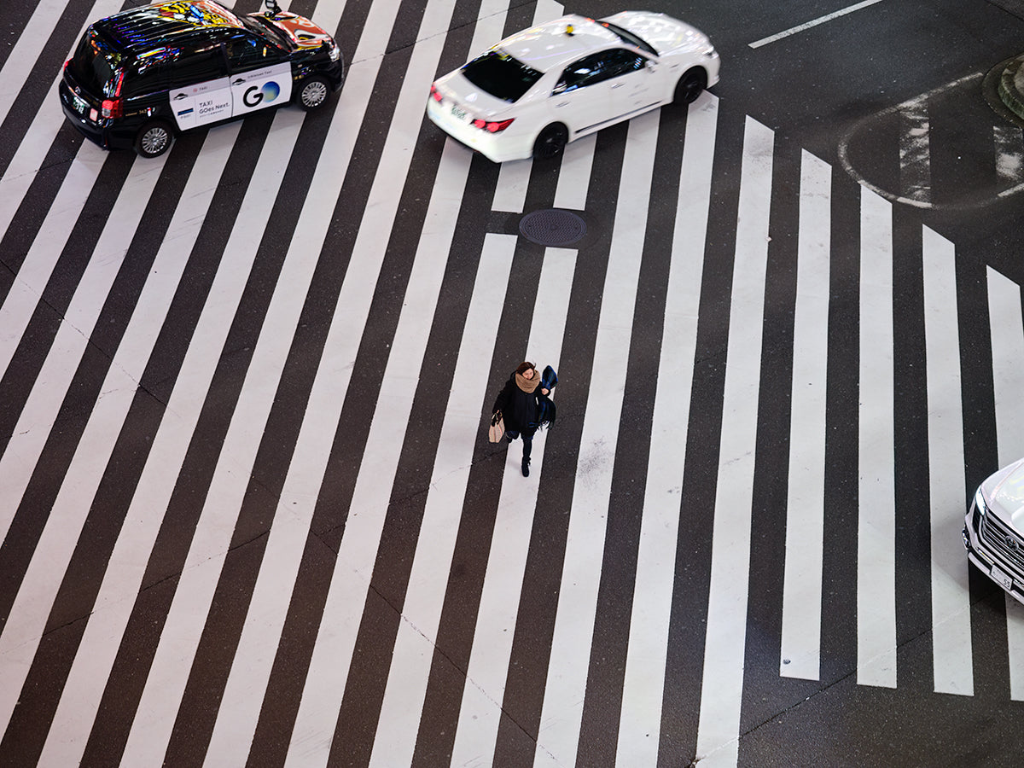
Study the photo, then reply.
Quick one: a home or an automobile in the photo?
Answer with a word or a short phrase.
automobile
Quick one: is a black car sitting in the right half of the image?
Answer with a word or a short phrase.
No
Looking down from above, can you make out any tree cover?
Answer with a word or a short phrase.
No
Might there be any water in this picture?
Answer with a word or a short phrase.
No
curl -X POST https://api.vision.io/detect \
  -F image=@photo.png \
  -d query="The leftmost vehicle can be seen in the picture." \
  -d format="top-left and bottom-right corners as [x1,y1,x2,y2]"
[58,0,350,157]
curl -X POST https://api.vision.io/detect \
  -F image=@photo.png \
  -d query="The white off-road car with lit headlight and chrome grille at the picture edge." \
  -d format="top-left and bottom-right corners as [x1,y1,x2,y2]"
[963,461,1024,607]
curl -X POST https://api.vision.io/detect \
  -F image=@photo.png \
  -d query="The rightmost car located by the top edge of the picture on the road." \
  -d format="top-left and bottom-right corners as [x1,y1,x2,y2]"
[431,8,722,160]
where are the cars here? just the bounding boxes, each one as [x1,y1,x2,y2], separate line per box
[58,0,350,157]
[963,461,1024,607]
[431,8,722,160]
